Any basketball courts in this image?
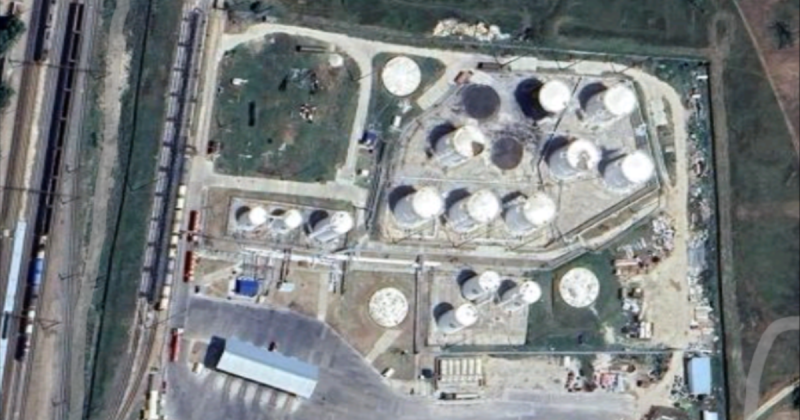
No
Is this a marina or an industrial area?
industrial area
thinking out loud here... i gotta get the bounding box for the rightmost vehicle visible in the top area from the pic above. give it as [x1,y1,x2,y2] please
[455,70,473,86]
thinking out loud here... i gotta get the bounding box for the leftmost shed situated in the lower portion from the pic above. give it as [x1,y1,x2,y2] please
[237,278,259,297]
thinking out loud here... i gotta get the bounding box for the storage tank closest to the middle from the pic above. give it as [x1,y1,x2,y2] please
[393,187,444,233]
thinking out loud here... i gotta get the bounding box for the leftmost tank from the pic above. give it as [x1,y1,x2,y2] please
[237,206,268,237]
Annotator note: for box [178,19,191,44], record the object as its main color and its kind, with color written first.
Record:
gray rail car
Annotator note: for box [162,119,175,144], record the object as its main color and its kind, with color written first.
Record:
gray rail car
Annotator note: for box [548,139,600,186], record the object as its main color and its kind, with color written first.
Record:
white storage tank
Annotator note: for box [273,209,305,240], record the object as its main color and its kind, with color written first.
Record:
white storage tank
